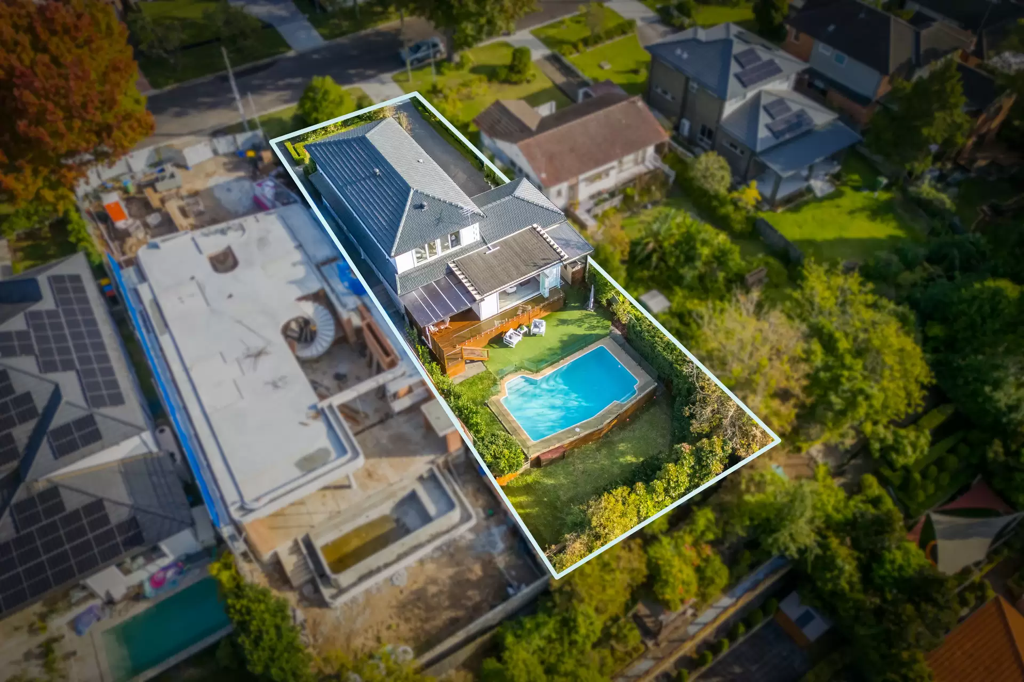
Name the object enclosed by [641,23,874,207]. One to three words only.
house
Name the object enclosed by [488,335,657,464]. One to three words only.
swimming pool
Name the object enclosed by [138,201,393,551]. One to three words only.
building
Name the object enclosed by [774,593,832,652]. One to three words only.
shed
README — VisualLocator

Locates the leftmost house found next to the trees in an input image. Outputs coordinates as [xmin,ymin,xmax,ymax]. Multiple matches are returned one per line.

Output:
[0,250,202,636]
